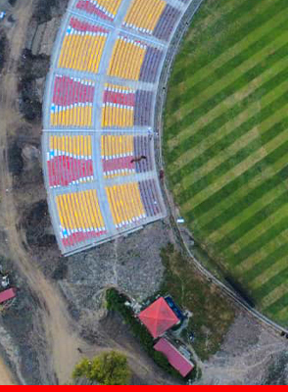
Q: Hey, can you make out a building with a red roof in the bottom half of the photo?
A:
Yes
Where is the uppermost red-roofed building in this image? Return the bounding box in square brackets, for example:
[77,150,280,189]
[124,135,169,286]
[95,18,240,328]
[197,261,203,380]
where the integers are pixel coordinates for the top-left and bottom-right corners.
[139,297,180,338]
